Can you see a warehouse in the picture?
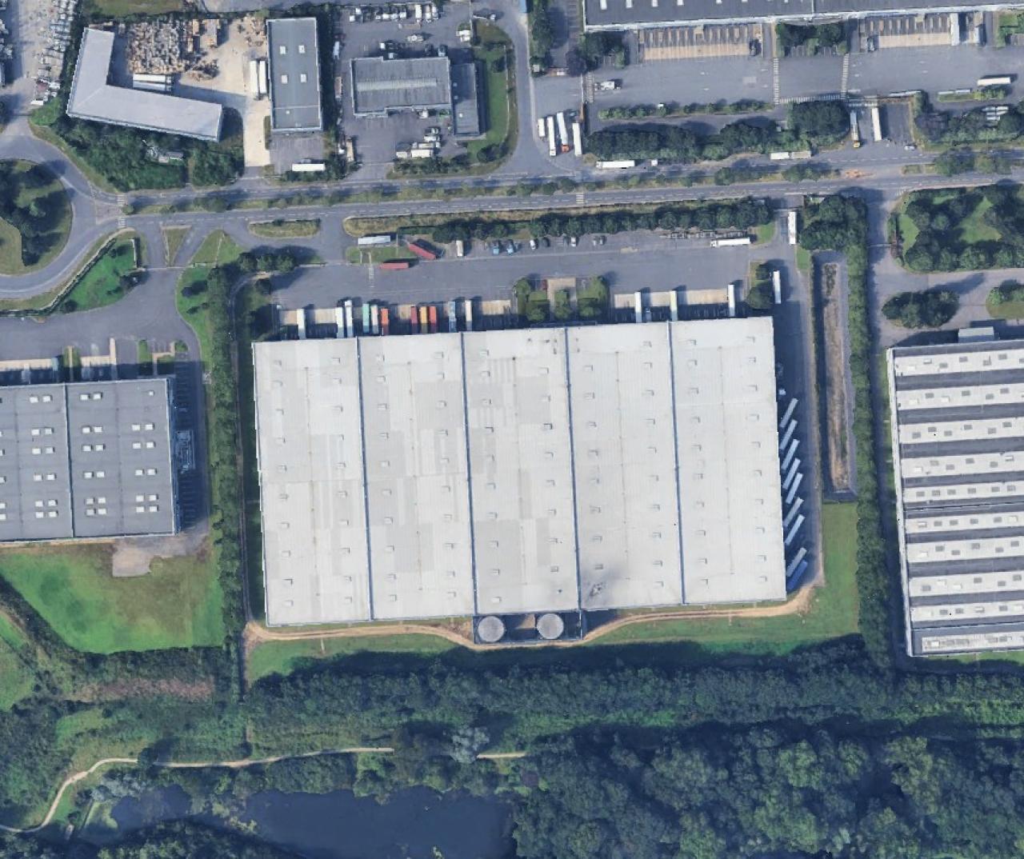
Yes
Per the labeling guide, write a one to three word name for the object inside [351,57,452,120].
building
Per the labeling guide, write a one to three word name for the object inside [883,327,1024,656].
warehouse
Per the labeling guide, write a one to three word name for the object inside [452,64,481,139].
building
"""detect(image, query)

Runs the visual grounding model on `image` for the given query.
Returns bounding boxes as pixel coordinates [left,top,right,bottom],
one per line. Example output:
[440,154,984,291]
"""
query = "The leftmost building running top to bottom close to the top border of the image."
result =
[266,18,325,136]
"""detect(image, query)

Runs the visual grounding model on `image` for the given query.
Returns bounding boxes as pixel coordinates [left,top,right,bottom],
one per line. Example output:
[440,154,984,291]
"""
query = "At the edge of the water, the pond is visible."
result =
[96,786,517,859]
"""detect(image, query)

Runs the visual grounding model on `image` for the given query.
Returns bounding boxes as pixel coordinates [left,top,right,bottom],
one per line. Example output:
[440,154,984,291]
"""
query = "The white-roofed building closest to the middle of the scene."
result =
[252,316,787,628]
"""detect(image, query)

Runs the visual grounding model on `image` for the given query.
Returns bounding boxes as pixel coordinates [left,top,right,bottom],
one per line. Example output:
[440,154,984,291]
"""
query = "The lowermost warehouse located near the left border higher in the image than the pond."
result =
[0,378,181,543]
